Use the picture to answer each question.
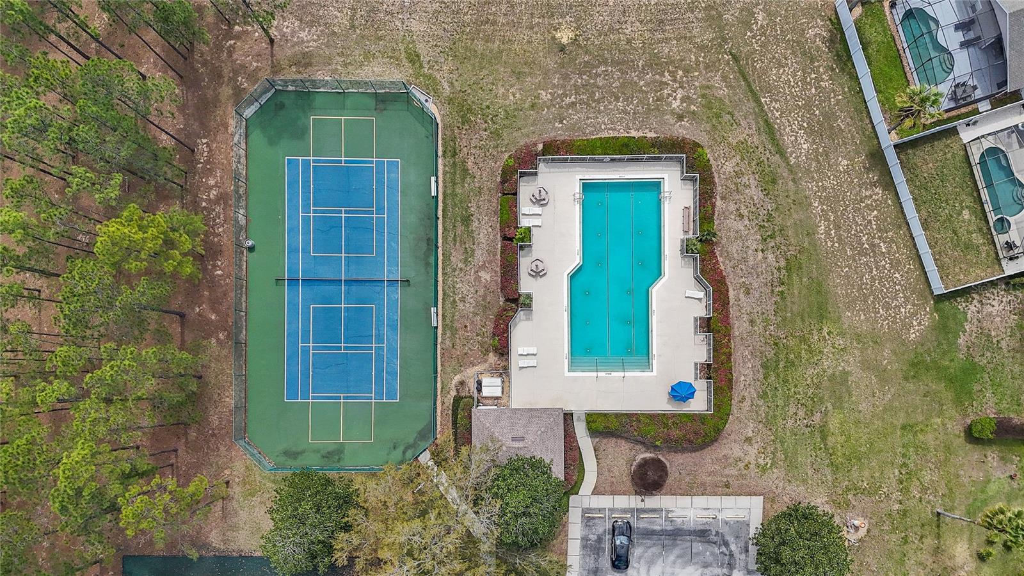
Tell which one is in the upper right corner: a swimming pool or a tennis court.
swimming pool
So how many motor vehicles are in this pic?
1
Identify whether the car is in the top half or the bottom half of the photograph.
bottom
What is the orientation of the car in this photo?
vertically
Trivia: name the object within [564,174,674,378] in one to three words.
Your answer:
swimming pool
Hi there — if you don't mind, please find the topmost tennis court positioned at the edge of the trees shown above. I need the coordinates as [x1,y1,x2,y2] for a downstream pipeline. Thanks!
[246,92,438,467]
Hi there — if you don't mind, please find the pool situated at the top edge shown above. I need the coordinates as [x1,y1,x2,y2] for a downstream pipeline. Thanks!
[900,5,956,87]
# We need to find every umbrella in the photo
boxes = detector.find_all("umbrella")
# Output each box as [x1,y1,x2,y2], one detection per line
[669,380,695,405]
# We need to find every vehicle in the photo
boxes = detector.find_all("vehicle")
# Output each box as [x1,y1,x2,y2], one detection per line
[611,520,634,570]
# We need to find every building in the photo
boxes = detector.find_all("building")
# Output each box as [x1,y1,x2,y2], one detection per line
[471,408,565,485]
[972,0,1024,103]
